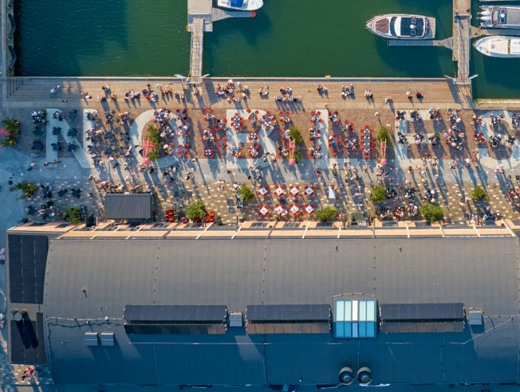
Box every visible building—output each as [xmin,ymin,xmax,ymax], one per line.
[106,192,157,218]
[6,213,520,384]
